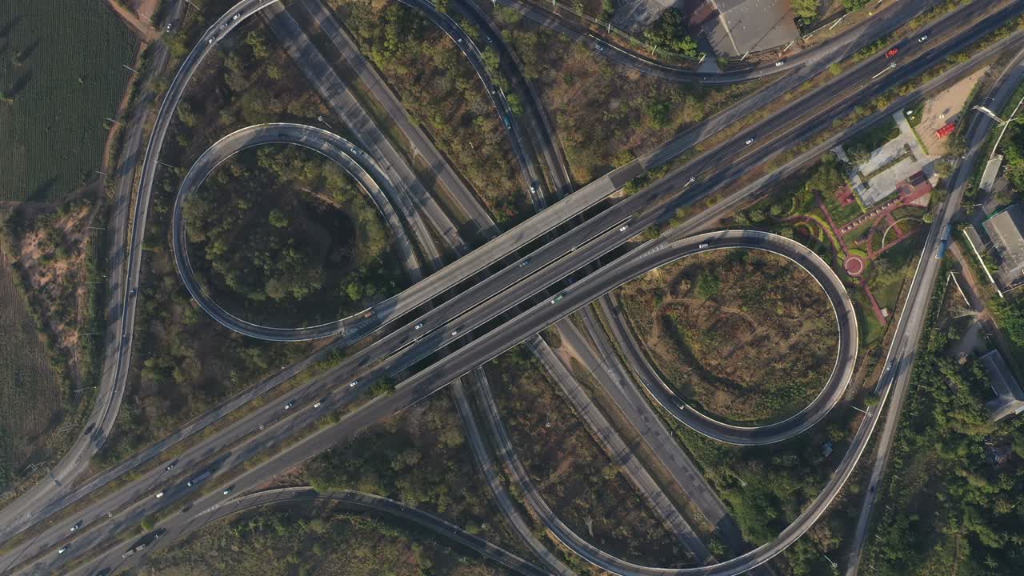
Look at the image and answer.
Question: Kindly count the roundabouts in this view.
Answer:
zero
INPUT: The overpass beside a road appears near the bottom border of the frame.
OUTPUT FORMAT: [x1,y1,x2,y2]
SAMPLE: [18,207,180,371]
[618,537,783,576]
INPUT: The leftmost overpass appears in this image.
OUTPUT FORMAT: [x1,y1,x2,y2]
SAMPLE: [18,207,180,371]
[227,0,279,22]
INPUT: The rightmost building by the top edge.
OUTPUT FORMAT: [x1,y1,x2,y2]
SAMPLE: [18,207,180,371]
[702,0,800,59]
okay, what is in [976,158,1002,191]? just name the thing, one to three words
shed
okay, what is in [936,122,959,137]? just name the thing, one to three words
vehicle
